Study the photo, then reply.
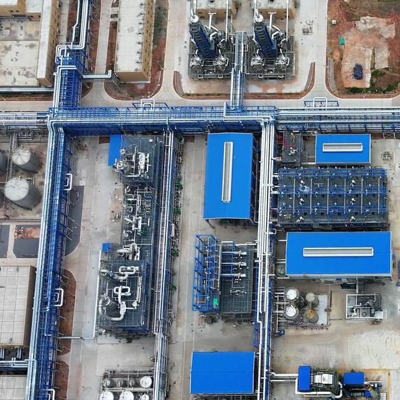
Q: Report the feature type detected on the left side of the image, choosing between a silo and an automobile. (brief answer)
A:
silo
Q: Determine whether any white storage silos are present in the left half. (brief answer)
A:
Yes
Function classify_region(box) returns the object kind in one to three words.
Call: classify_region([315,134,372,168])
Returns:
shed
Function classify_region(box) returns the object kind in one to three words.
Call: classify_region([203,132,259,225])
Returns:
shed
